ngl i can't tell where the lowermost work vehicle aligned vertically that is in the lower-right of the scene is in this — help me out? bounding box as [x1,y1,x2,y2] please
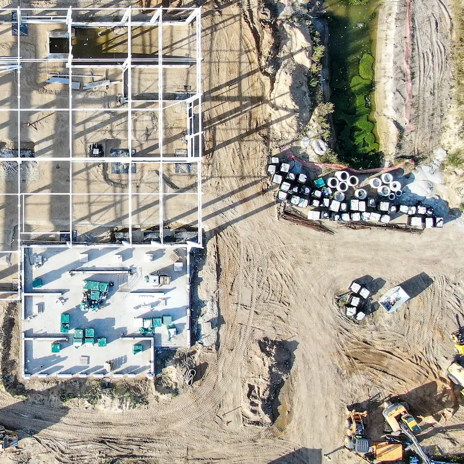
[343,405,372,464]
